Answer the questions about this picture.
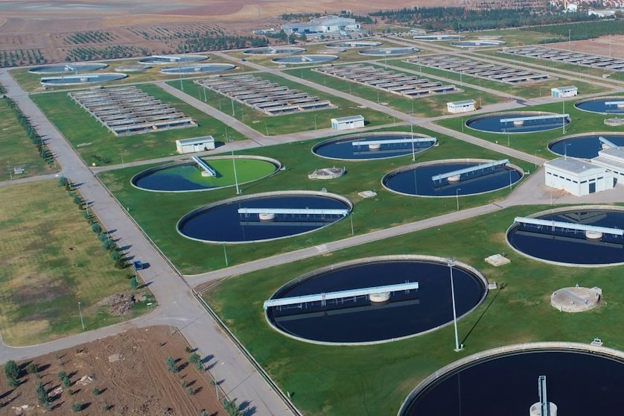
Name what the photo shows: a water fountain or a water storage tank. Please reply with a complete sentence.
The one in the frame is a water storage tank.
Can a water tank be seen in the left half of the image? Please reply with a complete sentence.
Yes, you'll find a water tank in the left half of the image.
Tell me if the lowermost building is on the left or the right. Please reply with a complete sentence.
You can find the lowermost building on the right side of the picture.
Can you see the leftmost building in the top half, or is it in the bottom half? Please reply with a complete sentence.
The top half of the photo is where the leftmost building is.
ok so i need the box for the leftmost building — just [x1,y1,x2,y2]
[170,134,215,154]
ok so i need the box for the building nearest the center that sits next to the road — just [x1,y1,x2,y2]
[325,113,364,131]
